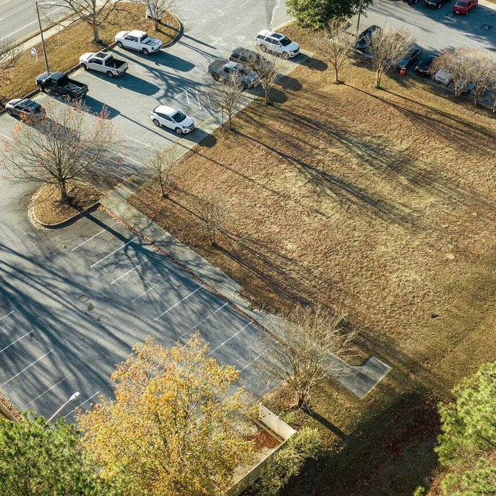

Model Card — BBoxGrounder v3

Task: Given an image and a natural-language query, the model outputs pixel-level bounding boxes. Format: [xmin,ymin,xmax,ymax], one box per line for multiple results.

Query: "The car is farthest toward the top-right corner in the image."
[449,0,480,17]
